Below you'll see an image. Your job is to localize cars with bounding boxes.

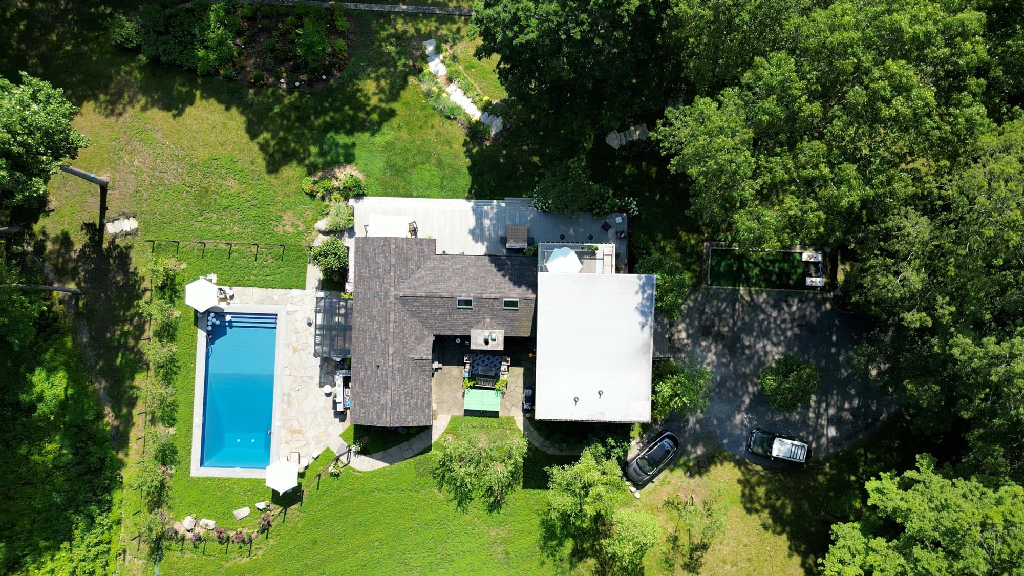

[626,426,680,482]
[746,430,815,466]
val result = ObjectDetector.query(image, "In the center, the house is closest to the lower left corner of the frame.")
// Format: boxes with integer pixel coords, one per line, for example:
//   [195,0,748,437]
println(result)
[351,237,537,433]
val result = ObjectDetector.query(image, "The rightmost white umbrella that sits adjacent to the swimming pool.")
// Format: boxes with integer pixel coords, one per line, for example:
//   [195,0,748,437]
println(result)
[266,460,298,495]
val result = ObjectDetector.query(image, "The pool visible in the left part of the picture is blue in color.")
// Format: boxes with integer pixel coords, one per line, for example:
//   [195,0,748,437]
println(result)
[190,305,286,479]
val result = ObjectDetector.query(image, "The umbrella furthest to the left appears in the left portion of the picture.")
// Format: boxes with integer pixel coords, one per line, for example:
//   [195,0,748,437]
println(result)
[186,278,218,312]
